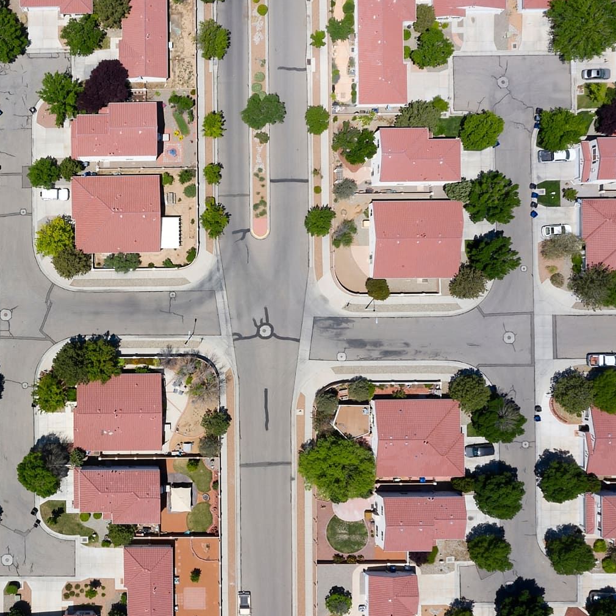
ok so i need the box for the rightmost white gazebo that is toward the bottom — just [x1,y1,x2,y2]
[170,487,192,511]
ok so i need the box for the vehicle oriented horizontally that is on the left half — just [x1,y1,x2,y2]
[41,188,69,201]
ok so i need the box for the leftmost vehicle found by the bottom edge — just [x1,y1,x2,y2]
[238,590,253,616]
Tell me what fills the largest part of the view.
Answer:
paved ground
